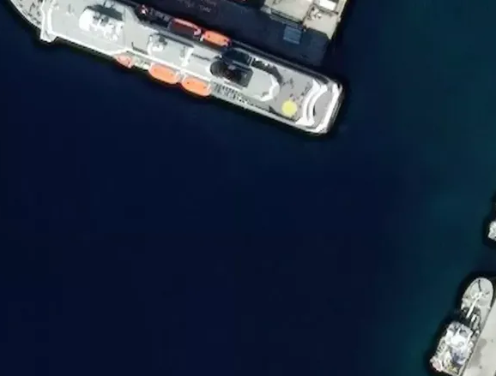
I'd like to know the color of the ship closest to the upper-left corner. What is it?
white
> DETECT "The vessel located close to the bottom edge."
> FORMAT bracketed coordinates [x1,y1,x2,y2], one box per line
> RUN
[432,276,492,376]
